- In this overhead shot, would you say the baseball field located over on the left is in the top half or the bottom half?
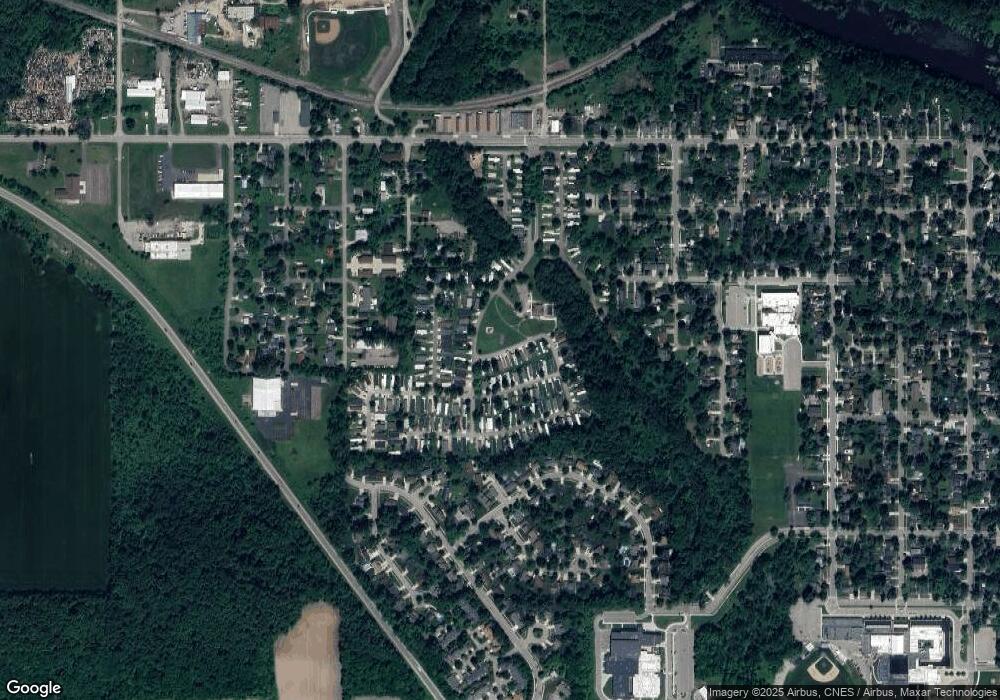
top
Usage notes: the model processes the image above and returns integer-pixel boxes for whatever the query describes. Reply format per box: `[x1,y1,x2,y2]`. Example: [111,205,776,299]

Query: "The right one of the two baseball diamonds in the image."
[787,644,868,700]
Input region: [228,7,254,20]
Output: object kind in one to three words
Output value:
barn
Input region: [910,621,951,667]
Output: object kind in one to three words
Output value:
building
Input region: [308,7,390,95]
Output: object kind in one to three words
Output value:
baseball field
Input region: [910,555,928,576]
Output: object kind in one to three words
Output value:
building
